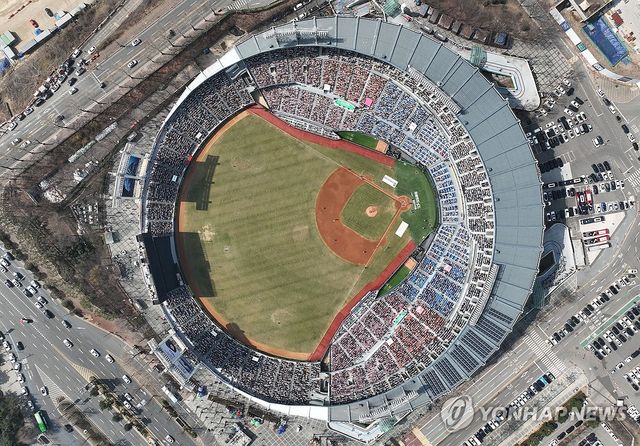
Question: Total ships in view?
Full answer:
No ships are visible.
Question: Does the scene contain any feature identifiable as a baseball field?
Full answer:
Yes, a baseball field is visible in the scene.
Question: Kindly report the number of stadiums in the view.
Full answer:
There is 1 stadium in the image.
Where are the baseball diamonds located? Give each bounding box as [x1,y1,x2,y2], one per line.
[176,104,438,362]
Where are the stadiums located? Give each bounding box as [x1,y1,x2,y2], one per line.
[141,12,549,424]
